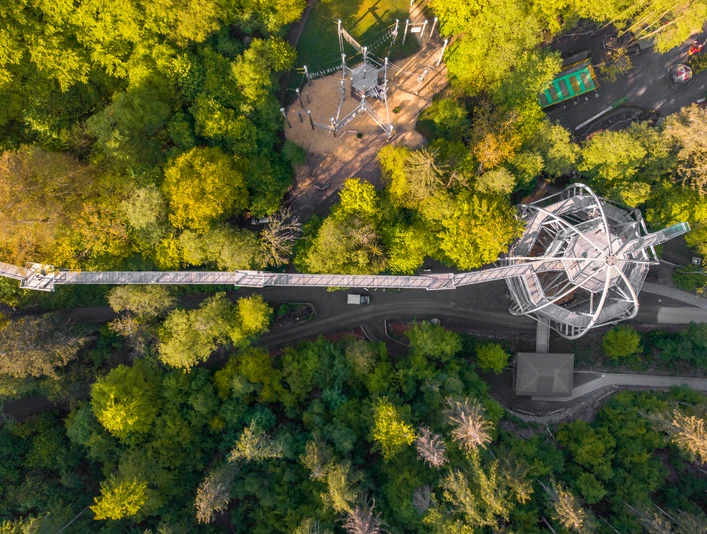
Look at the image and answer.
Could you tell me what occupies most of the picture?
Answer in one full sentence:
The scene is dominated by trees.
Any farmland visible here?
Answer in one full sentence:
No, no farmland is visible.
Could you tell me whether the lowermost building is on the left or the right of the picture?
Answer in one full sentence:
It is on the right.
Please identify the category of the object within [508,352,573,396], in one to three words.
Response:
building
